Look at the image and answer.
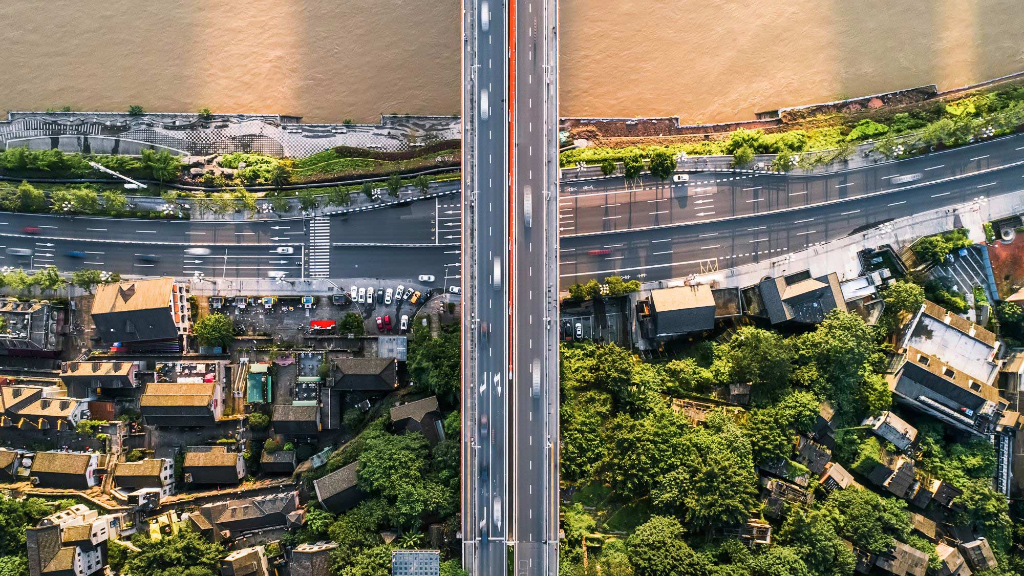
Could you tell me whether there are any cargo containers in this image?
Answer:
No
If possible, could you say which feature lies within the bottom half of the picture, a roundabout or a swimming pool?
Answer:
swimming pool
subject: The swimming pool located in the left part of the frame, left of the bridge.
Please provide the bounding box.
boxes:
[247,372,273,396]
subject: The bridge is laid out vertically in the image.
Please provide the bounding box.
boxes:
[458,0,566,576]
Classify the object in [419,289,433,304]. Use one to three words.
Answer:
car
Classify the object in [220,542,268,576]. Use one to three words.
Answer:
house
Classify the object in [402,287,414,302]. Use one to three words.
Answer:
vehicle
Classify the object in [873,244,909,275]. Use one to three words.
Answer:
building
